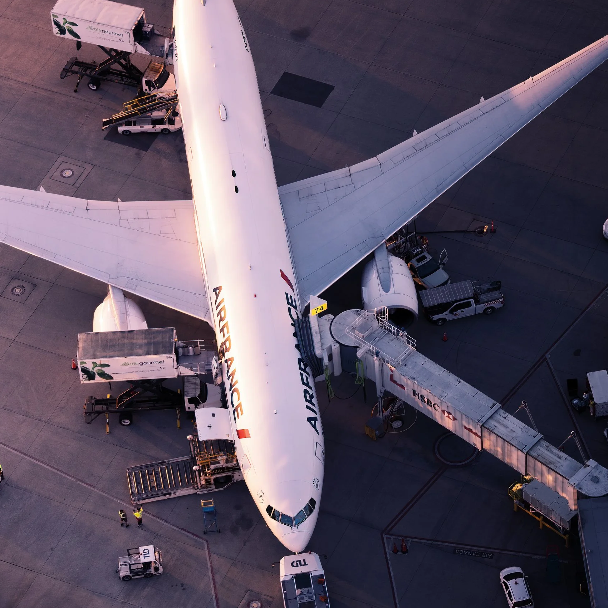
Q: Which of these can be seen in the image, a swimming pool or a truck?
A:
truck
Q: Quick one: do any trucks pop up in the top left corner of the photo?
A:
Yes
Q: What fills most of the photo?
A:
paved ground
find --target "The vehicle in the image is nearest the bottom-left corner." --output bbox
[112,545,164,582]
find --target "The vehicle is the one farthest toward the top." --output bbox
[50,0,178,105]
